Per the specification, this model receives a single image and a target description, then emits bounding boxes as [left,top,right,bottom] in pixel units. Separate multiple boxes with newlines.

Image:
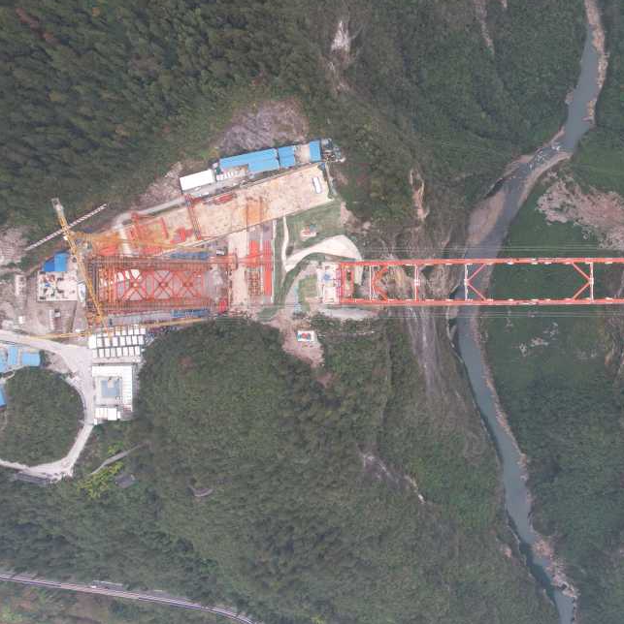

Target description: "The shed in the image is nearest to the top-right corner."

[309,140,324,165]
